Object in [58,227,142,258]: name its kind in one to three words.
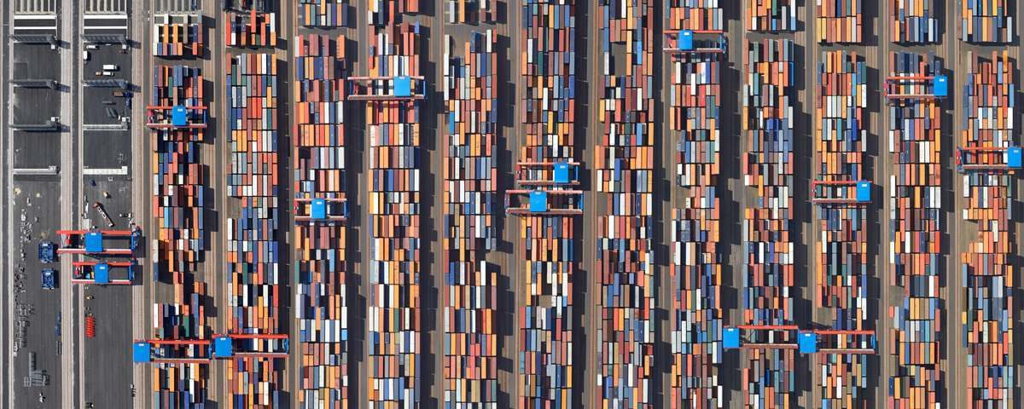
container crane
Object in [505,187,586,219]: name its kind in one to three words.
container crane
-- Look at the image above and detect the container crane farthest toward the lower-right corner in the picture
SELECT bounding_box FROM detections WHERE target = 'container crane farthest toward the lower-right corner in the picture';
[797,325,879,357]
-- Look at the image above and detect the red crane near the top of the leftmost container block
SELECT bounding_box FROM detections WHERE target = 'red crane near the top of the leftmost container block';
[146,103,214,133]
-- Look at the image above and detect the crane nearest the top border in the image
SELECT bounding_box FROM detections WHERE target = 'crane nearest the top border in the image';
[660,28,727,58]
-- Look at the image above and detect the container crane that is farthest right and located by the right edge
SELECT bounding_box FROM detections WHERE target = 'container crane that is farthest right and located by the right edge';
[956,144,1024,175]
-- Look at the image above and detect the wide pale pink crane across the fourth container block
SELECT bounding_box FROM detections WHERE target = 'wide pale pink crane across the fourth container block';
[348,74,429,106]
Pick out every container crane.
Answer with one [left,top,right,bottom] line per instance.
[72,258,142,288]
[721,321,798,351]
[348,74,429,106]
[294,195,353,225]
[660,28,727,58]
[808,177,876,207]
[880,74,951,104]
[58,227,142,258]
[516,159,584,190]
[146,103,214,133]
[956,144,1024,175]
[797,325,879,357]
[505,187,586,219]
[133,336,216,366]
[211,329,295,360]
